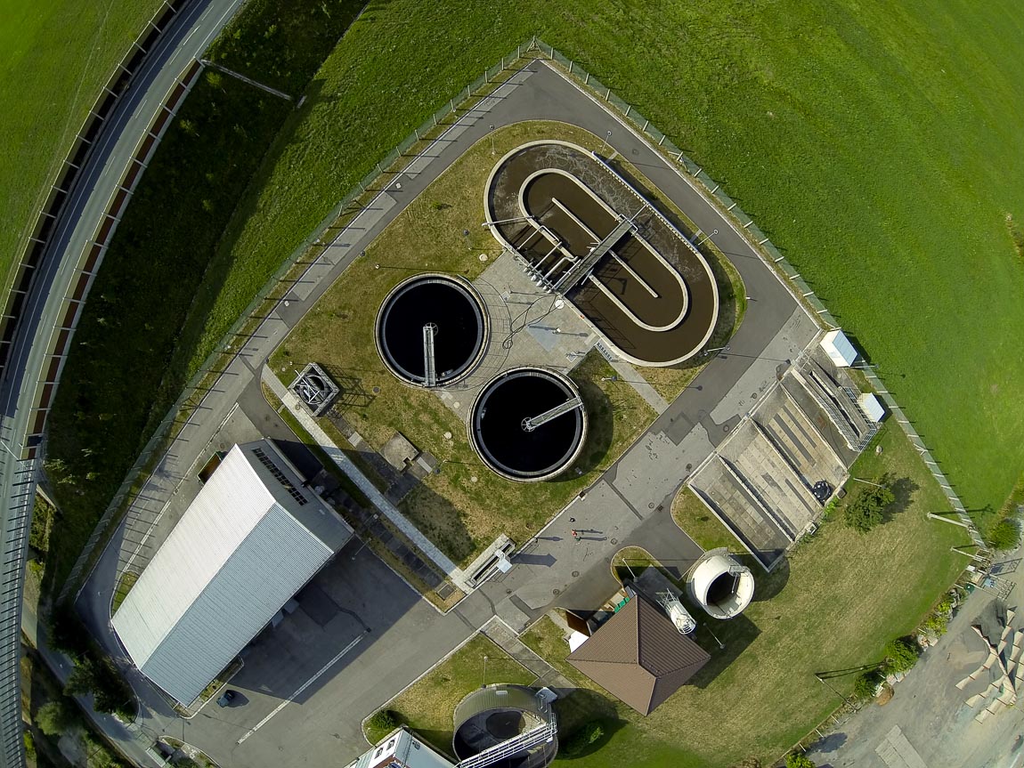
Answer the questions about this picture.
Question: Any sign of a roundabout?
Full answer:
No, there's no roundabout here.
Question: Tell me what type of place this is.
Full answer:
It's an industrial area.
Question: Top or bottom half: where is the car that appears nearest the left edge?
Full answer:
The car that appears nearest the left edge is in the bottom half of the image.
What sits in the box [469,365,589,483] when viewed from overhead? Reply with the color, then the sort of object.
black storage tank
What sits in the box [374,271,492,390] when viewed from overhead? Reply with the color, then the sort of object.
black storage tank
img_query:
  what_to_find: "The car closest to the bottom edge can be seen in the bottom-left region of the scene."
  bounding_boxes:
[210,689,235,712]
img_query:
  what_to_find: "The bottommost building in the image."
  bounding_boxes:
[361,718,453,768]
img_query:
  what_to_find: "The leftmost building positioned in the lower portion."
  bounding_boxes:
[109,439,349,708]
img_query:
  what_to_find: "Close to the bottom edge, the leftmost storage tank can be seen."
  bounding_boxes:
[448,674,559,768]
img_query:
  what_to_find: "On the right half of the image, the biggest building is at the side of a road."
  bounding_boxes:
[565,594,711,718]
